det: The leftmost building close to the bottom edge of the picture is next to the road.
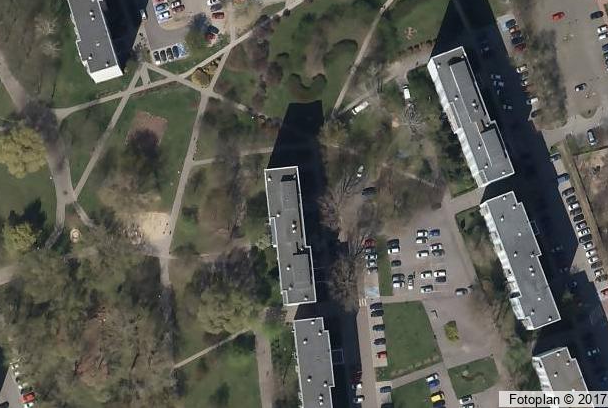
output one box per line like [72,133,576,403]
[287,317,334,408]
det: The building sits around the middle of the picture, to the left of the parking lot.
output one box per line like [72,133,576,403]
[262,166,316,306]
